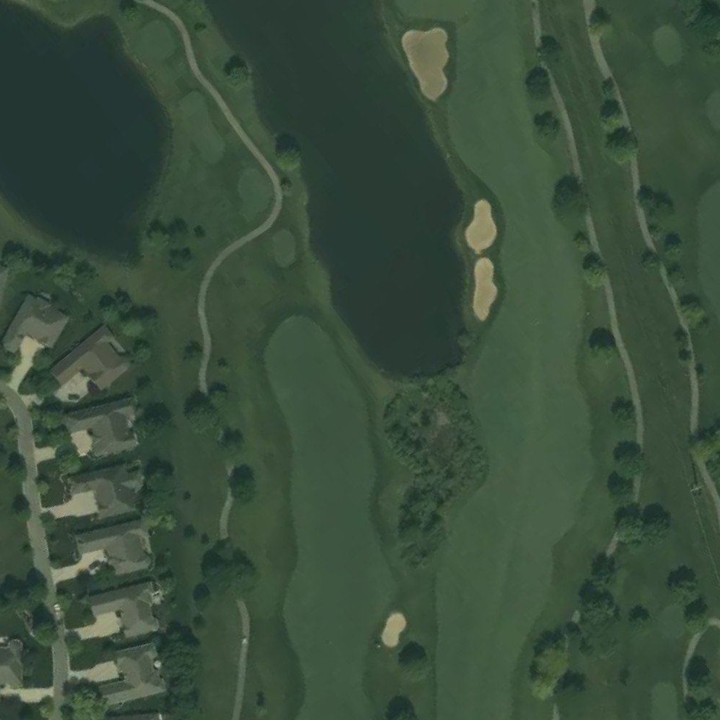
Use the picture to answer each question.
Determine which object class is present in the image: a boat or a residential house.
residential house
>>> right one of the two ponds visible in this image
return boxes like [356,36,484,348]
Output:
[207,0,463,376]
